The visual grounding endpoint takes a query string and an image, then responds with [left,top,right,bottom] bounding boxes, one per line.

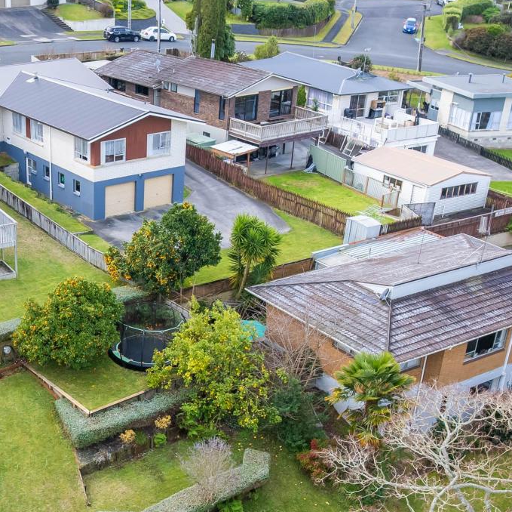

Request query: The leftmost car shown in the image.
[101,24,143,42]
